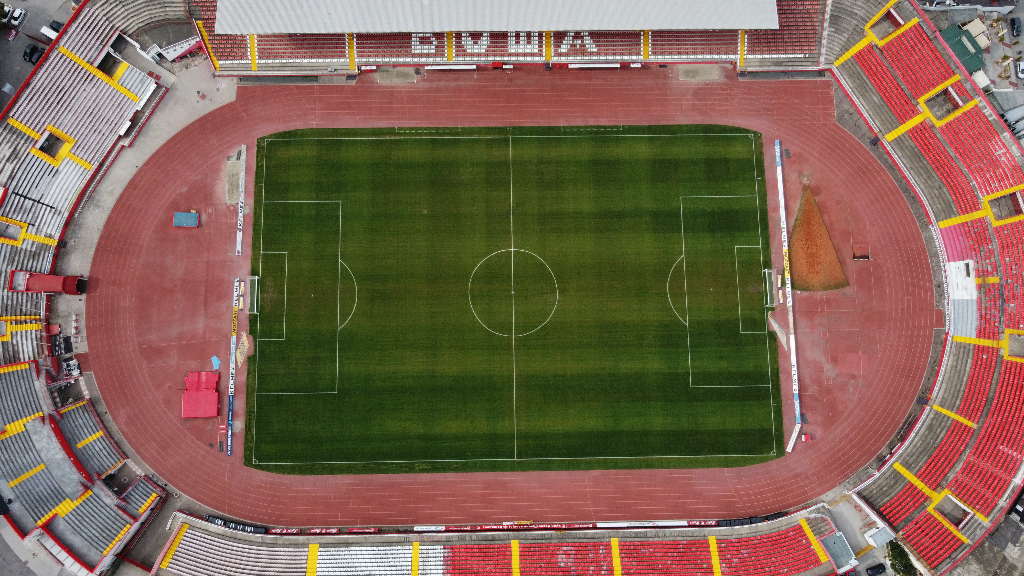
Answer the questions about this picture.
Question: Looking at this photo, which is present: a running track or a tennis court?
running track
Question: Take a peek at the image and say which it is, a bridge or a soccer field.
soccer field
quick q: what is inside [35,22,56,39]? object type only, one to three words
vehicle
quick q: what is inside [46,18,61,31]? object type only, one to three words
vehicle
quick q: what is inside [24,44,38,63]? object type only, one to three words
car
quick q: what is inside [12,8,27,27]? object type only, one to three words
car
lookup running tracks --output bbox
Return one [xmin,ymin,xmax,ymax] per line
[73,65,941,526]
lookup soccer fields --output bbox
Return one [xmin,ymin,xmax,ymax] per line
[244,124,784,475]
